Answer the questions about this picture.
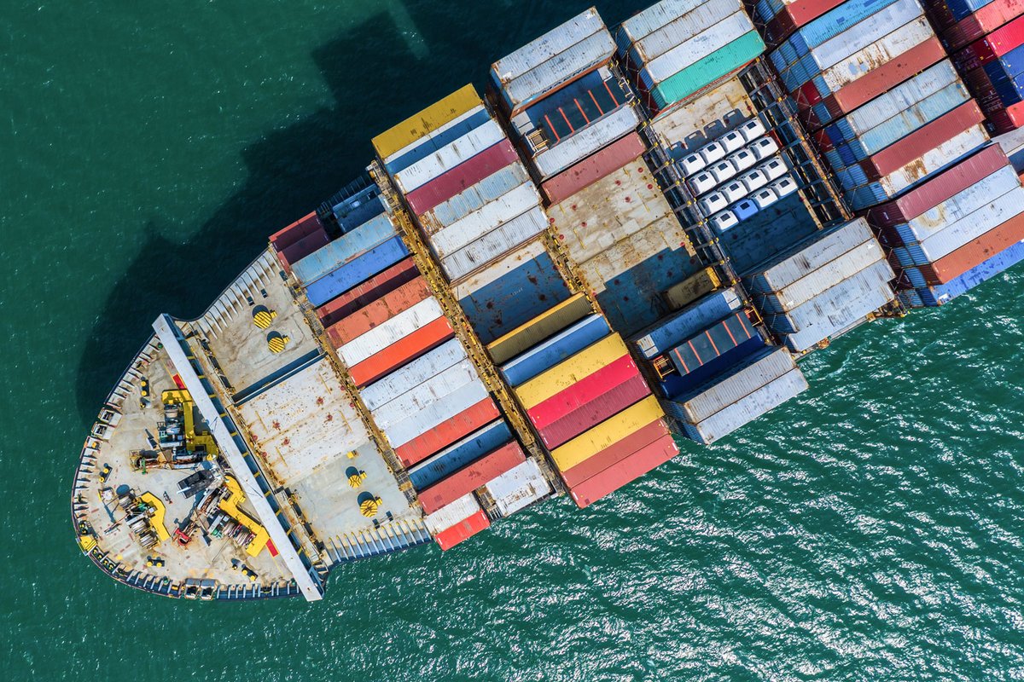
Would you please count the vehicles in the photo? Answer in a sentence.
The number of vehicles here is 16.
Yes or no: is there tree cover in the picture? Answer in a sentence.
No, there's no tree cover in this view.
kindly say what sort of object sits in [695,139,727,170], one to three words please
truck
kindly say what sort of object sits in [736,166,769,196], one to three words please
truck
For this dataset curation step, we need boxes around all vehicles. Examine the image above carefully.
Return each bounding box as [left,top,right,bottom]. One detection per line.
[673,151,706,183]
[736,166,769,196]
[725,146,758,178]
[694,189,728,220]
[695,139,727,170]
[715,128,748,158]
[716,177,748,208]
[746,135,778,166]
[705,158,738,189]
[747,185,779,216]
[705,208,738,239]
[755,154,789,185]
[727,196,759,227]
[734,116,767,147]
[684,170,717,201]
[767,173,800,204]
